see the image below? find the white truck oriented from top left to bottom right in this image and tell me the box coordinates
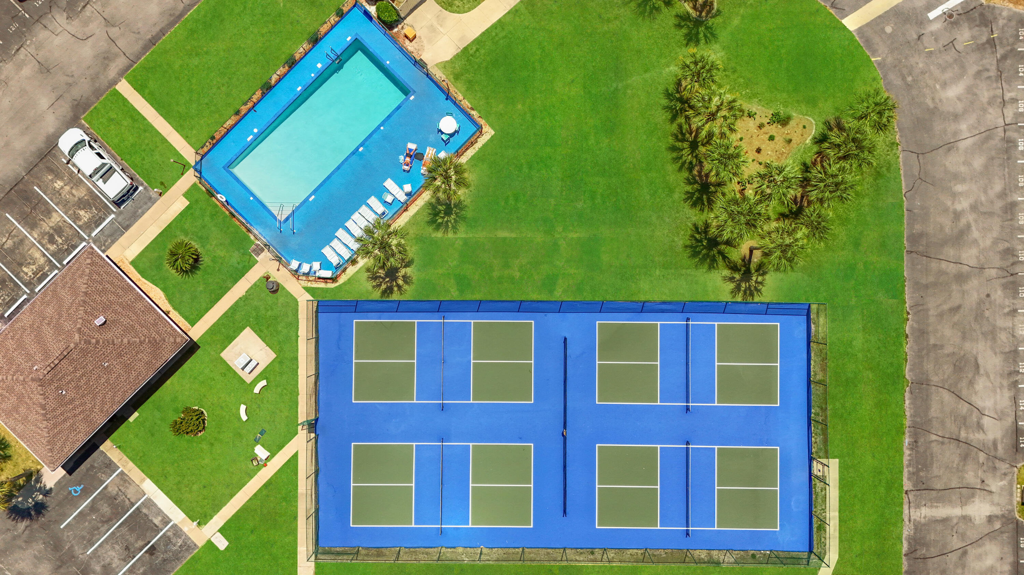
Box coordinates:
[60,127,136,202]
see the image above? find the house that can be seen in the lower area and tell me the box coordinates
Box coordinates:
[0,240,194,474]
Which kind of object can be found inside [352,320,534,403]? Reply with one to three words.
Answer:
sports court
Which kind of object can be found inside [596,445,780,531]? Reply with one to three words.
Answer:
sports court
